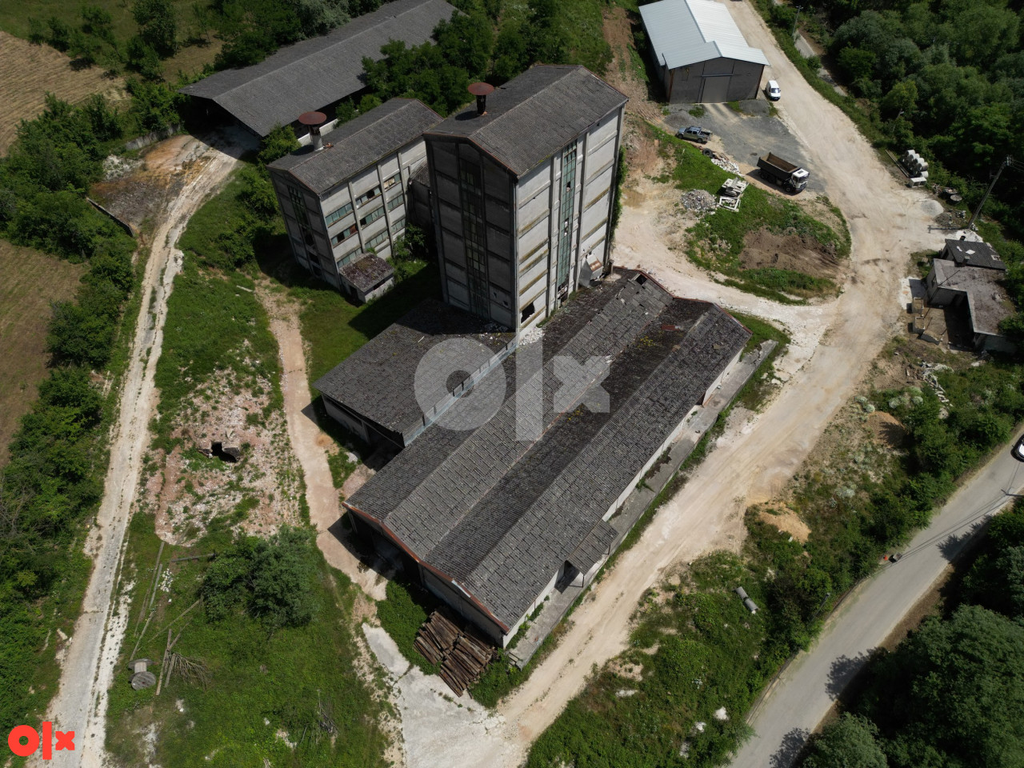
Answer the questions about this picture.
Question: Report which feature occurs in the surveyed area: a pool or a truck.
truck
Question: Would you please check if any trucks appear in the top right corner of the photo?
Yes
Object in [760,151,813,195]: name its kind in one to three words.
truck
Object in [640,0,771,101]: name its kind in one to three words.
hangar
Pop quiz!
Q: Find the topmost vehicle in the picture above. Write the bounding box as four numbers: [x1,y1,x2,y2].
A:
[766,80,782,98]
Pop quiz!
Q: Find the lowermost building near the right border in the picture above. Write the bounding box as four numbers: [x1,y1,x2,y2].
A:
[925,258,1024,352]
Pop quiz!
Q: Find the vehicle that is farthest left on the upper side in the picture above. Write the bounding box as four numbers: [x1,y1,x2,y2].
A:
[678,126,710,142]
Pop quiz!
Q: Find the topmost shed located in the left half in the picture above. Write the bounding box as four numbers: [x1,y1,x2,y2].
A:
[176,0,484,159]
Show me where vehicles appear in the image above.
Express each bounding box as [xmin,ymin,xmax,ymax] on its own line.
[760,151,813,195]
[678,126,710,142]
[766,80,782,98]
[1016,435,1024,458]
